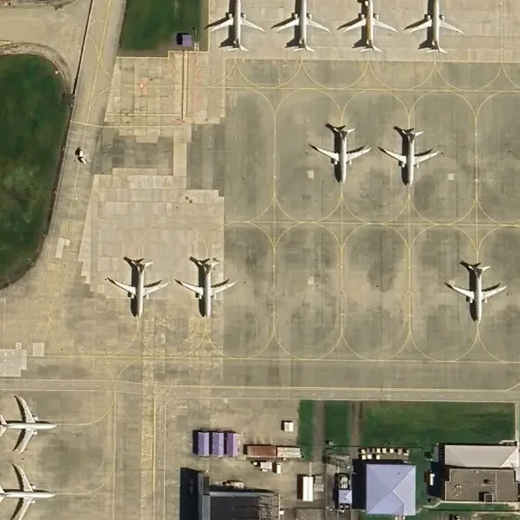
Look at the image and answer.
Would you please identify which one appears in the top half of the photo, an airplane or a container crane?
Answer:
airplane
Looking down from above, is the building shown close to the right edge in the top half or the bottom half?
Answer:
bottom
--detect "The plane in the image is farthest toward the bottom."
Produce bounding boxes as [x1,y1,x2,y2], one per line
[0,467,54,520]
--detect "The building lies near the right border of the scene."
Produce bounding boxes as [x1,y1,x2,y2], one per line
[445,445,520,502]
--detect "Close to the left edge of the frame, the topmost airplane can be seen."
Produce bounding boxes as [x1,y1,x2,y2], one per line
[0,397,56,454]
